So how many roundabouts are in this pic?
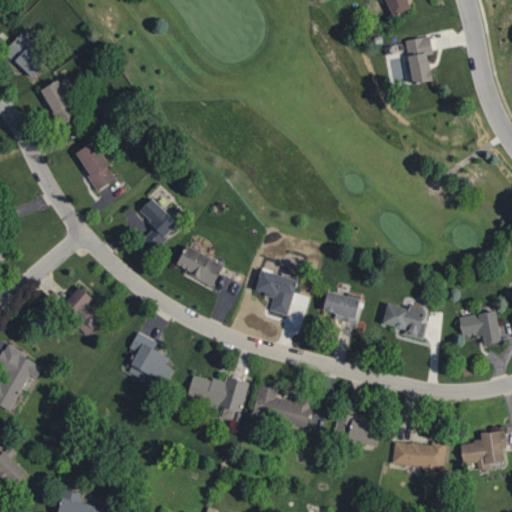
0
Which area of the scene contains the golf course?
top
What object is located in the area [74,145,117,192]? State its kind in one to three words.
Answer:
house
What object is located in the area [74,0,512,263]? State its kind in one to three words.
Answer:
golf course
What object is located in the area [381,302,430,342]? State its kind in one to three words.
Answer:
house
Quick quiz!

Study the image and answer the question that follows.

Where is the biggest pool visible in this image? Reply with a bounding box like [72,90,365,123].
[390,58,405,82]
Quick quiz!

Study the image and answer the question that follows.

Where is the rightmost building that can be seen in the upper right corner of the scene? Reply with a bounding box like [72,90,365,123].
[406,36,434,84]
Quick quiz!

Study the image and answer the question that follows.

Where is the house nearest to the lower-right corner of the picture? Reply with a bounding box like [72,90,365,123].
[460,432,508,471]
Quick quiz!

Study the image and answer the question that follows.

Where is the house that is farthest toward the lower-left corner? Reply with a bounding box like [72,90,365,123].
[0,445,30,484]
